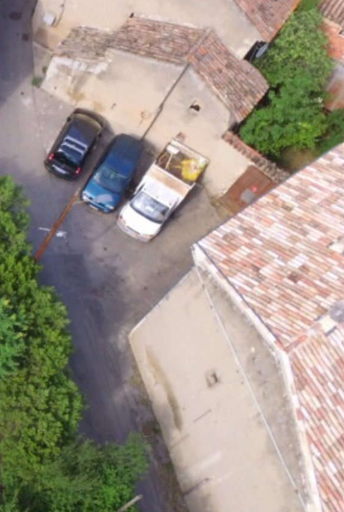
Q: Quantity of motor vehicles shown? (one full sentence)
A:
Altogether the scene contains 3 motor vehicles.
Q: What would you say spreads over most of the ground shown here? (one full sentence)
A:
For the most part, this view shows buildings.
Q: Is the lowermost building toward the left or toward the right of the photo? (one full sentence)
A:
The lowermost building sits on the right side.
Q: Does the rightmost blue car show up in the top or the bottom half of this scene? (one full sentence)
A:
The rightmost blue car sits in the top half of the picture.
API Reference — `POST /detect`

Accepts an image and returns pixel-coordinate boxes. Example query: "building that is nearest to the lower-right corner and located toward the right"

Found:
[128,142,344,512]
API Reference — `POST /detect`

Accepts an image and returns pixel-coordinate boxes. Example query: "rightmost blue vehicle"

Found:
[82,127,151,215]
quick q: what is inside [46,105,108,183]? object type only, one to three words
car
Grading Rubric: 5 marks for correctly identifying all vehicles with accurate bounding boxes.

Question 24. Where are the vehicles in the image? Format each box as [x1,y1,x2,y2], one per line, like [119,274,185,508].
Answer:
[126,139,206,243]
[82,127,151,215]
[46,105,108,183]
